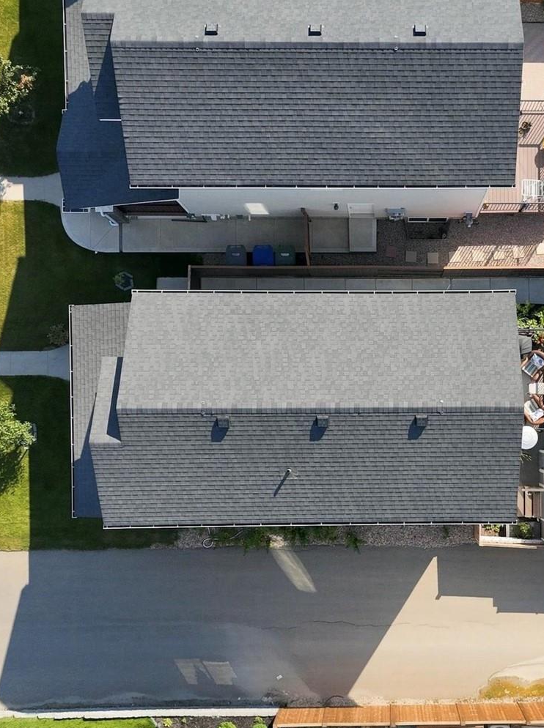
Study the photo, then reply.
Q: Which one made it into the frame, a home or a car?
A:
home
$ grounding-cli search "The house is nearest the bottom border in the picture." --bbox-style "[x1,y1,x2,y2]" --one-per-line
[64,286,525,532]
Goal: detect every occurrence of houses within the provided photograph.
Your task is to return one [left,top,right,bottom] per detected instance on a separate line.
[64,286,525,532]
[57,0,523,252]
